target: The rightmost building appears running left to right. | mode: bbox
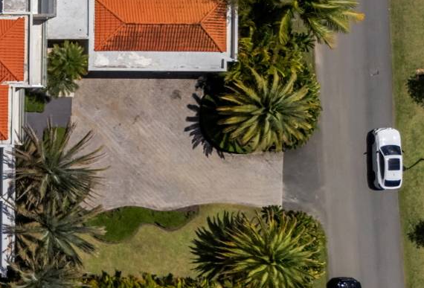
[77,0,238,73]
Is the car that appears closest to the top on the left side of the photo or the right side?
right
